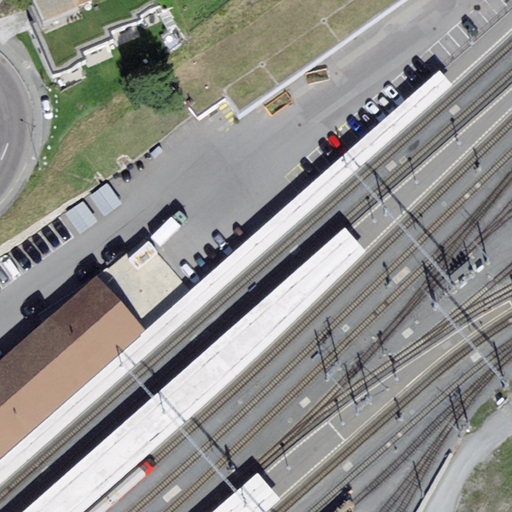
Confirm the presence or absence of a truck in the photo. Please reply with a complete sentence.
Yes, there is a truck in the image.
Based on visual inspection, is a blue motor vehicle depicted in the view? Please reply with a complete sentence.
Yes, the photo shows a blue motor vehicle.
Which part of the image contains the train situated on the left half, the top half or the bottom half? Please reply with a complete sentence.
It is in the bottom half that the train situated on the left half appears.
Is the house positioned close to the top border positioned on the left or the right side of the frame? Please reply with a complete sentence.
It is on the left.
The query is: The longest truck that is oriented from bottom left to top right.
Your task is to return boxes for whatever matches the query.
[151,208,189,246]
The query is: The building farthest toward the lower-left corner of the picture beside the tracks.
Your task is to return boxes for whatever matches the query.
[0,276,145,453]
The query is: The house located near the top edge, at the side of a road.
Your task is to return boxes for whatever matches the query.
[20,0,168,76]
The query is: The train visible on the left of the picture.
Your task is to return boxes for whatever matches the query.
[88,456,158,512]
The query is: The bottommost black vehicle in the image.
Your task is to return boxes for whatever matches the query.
[20,294,44,315]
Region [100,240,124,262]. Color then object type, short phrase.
black vehicle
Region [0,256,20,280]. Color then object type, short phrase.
white vehicle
